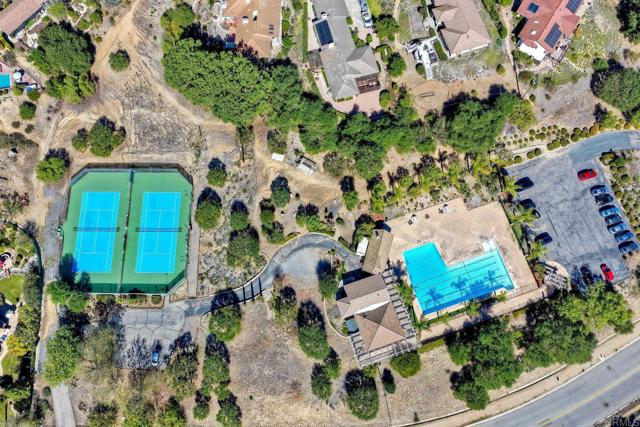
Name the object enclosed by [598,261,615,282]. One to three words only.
car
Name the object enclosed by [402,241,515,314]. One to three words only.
swimming pool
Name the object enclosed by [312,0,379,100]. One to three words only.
house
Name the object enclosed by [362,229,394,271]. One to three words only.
building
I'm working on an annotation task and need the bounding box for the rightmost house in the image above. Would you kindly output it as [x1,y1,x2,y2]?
[514,0,582,53]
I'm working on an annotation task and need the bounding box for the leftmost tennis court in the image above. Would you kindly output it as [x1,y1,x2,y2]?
[61,171,131,291]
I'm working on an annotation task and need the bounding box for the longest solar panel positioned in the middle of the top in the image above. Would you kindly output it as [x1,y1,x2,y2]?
[316,20,330,46]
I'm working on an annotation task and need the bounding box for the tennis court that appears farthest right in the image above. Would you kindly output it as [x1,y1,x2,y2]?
[120,171,191,291]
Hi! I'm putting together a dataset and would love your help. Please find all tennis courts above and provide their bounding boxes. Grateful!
[61,171,131,291]
[120,171,191,291]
